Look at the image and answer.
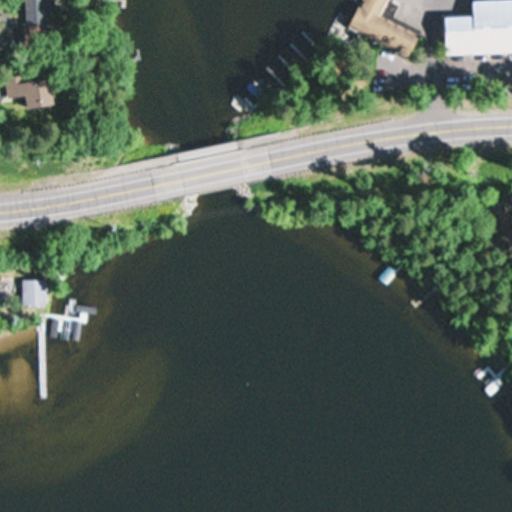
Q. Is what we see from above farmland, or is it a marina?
marina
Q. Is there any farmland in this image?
No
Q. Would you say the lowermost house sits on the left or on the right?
left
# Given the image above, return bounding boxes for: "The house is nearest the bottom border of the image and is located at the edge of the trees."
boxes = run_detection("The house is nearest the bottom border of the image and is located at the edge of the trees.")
[22,279,48,308]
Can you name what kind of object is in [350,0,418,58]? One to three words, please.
building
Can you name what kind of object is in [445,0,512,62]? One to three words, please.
building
